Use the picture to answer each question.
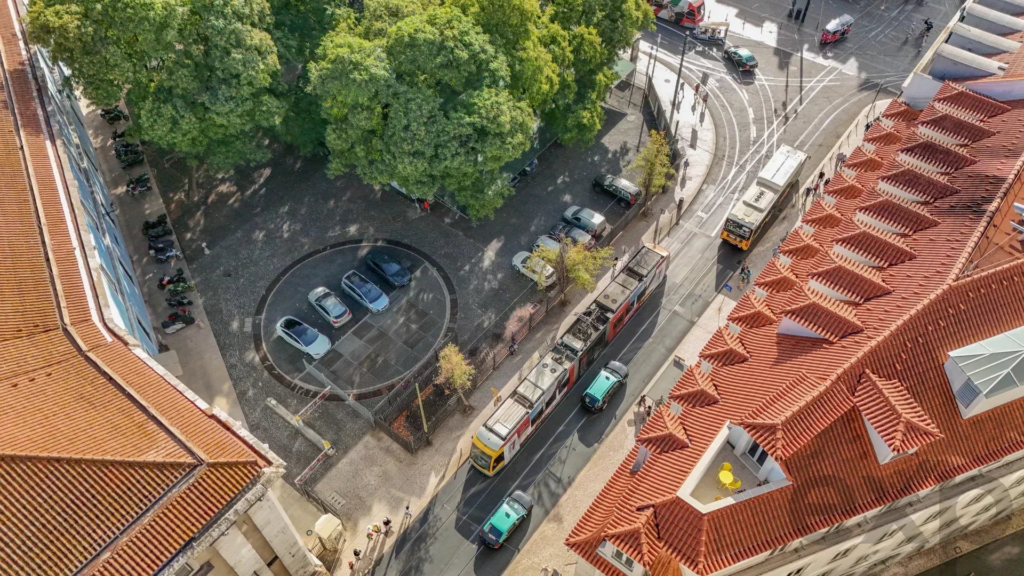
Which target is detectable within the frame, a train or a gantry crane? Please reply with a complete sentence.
I can see a train in this picture.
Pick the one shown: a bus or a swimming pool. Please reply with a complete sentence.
The one in the frame is a bus.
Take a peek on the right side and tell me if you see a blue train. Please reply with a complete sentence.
No, I see no blue train on the right side.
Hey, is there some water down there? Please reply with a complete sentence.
No, no water is visible.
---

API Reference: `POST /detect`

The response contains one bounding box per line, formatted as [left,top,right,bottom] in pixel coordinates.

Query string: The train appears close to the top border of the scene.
[644,0,697,28]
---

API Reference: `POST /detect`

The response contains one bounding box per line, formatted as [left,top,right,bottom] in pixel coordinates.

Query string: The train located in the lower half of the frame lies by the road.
[466,251,666,480]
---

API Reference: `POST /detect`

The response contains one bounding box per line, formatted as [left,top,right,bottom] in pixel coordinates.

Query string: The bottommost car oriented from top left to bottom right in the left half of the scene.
[277,317,329,360]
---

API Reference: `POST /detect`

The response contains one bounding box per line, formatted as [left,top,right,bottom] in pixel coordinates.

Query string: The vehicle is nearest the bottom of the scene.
[477,487,534,557]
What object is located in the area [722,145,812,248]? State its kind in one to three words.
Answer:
bus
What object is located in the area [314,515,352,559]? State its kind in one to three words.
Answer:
building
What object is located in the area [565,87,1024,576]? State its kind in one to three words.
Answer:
building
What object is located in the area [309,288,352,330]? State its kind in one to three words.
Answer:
car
